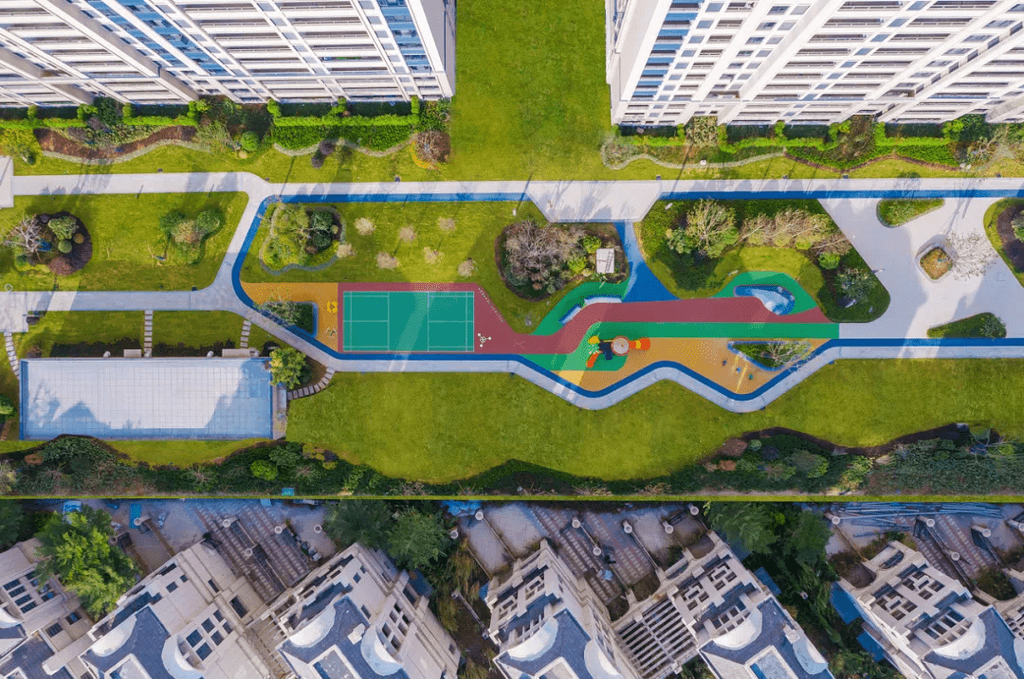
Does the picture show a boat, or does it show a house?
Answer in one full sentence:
The one in the frame is a house.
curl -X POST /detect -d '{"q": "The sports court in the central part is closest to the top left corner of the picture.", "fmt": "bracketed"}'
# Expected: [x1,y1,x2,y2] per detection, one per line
[343,292,474,352]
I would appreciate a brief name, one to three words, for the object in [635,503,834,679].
house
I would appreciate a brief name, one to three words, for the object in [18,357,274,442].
swimming pool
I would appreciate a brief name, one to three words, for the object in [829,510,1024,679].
house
